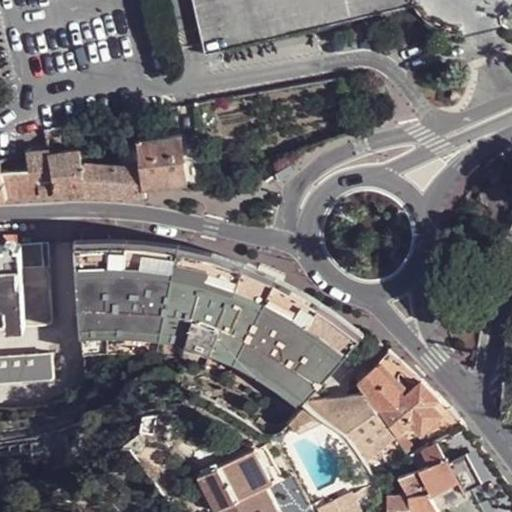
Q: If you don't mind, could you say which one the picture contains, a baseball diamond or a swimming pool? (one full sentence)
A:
Visible in the photo is a swimming pool.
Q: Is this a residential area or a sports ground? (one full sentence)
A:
This looks like a residential area.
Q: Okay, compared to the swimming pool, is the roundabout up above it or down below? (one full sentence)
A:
Within the scene, the roundabout can be found above the swimming pool.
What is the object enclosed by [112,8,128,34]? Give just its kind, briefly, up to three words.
vehicle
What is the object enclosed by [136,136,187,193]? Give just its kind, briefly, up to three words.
house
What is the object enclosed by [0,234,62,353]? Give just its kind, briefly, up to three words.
building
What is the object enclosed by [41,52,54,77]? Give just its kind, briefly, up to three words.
vehicle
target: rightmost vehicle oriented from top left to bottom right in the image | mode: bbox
[328,284,352,304]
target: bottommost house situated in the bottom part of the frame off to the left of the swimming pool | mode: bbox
[197,442,284,512]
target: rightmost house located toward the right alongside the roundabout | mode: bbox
[358,352,458,443]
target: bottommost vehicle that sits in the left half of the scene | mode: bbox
[152,225,180,238]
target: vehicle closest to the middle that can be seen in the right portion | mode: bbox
[307,268,328,292]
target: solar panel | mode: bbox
[240,458,266,490]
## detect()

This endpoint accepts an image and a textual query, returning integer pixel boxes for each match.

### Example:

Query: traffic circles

[296,162,436,308]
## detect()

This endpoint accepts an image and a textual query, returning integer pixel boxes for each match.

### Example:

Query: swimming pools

[285,421,370,498]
